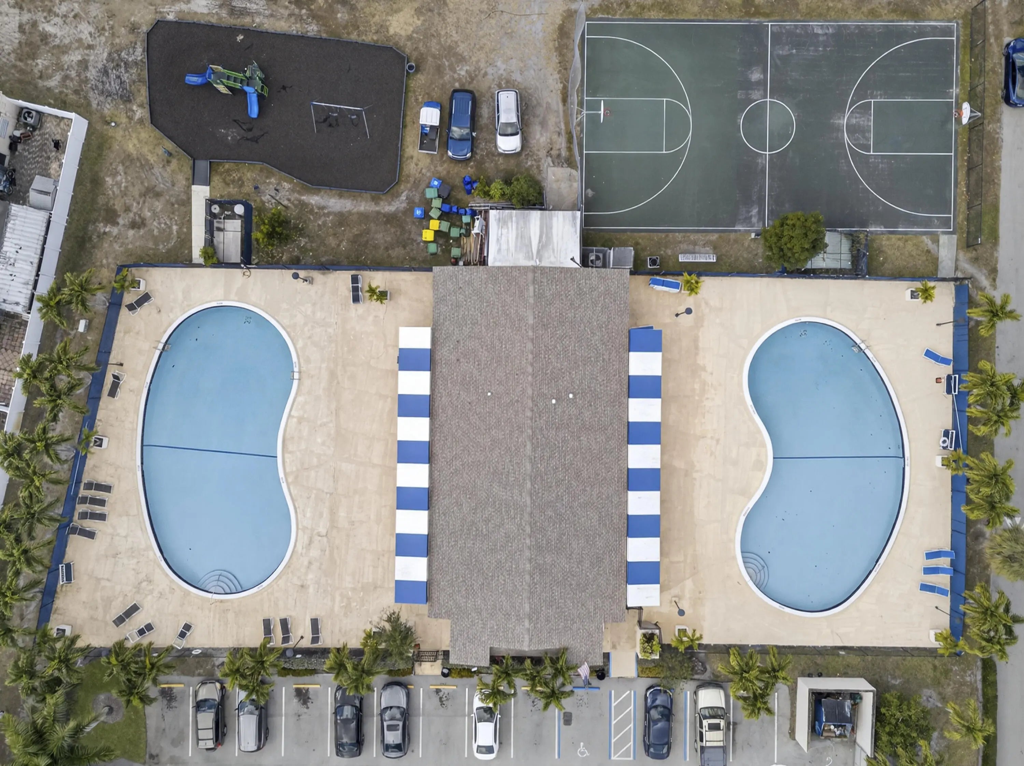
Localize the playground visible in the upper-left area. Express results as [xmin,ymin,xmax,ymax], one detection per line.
[144,18,407,194]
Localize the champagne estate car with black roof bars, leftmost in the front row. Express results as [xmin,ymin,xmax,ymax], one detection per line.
[192,680,229,752]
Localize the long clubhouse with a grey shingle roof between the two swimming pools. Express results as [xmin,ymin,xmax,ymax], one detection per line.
[395,266,662,666]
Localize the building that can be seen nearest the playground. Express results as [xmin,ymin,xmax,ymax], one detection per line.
[215,220,246,264]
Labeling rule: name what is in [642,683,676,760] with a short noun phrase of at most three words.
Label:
car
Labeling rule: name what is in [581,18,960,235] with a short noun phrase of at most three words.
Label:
basketball court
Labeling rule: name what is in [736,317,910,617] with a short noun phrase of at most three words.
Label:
swimming pool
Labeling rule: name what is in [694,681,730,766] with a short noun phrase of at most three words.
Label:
truck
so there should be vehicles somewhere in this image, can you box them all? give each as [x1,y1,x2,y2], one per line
[493,87,525,155]
[694,681,730,766]
[444,86,477,161]
[377,681,411,759]
[642,683,676,760]
[416,99,444,156]
[192,680,229,752]
[470,686,502,761]
[1003,40,1024,108]
[234,682,271,756]
[332,686,365,760]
